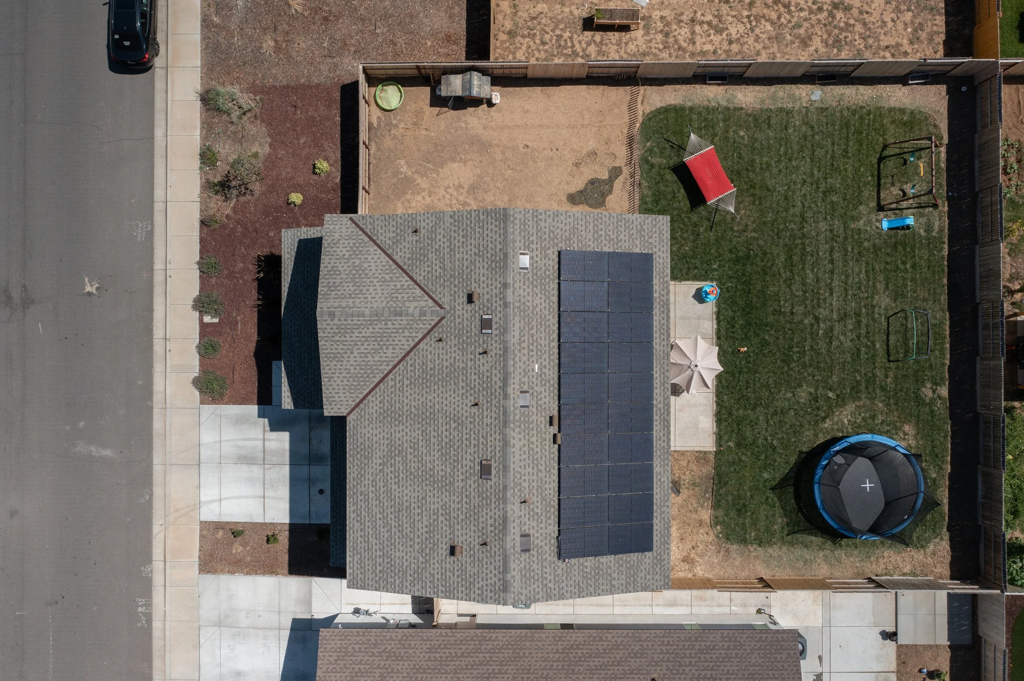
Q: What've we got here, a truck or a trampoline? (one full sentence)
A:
I can see a trampoline in this picture.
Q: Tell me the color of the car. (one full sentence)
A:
The car is black.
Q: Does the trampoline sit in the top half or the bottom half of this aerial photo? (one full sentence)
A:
Seen from above, the trampoline lies in the bottom half of the view.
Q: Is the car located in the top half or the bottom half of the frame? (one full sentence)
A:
You can find the car in the top half.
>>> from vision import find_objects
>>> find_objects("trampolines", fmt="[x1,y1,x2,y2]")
[807,431,942,551]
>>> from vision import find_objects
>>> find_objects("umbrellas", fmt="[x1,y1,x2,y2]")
[671,335,723,394]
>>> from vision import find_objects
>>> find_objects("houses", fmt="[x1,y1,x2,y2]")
[316,613,804,681]
[282,206,671,606]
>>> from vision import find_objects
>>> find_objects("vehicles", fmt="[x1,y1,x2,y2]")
[109,0,164,70]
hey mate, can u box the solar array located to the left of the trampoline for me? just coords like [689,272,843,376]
[556,248,655,565]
